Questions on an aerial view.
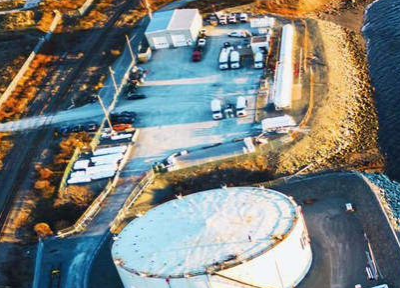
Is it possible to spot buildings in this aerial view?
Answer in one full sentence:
Yes, the photo shows a building.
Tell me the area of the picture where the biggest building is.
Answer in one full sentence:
The biggest building sits in the top section of the image.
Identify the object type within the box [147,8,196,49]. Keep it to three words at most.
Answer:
building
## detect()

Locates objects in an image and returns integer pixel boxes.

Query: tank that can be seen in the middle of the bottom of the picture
[111,185,313,288]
